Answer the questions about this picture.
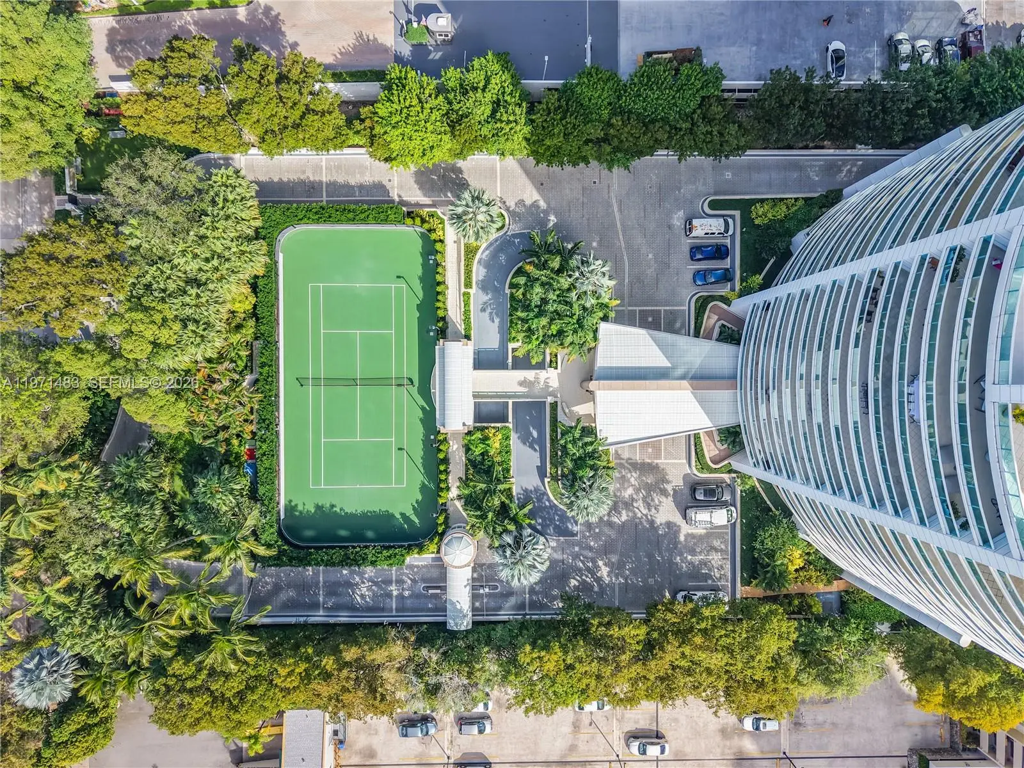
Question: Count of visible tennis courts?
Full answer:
The count comes to 1 tennis court.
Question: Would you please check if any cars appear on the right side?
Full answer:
Yes, a car shows up on the right side.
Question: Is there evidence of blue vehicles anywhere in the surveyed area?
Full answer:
Yes, you can see a blue vehicle in this photo.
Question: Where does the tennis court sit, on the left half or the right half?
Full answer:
You can find the tennis court on the left side of the picture.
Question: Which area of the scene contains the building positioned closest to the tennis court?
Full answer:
The building positioned closest to the tennis court appears toward the center of the photo.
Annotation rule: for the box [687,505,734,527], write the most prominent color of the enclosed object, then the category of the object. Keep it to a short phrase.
white vehicle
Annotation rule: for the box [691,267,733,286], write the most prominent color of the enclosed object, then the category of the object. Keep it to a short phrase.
blue car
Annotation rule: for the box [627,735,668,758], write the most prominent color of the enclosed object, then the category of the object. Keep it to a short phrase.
white car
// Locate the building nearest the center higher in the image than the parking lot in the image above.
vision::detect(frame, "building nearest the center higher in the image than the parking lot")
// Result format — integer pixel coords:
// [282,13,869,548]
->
[431,337,474,439]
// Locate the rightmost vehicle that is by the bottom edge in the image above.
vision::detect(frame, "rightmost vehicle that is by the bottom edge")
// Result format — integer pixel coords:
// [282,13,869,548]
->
[739,712,781,735]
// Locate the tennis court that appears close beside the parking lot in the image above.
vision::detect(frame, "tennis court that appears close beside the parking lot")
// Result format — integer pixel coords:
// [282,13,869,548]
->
[276,223,439,550]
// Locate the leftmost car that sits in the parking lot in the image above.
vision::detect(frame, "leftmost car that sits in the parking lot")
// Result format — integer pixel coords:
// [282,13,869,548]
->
[398,718,439,739]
